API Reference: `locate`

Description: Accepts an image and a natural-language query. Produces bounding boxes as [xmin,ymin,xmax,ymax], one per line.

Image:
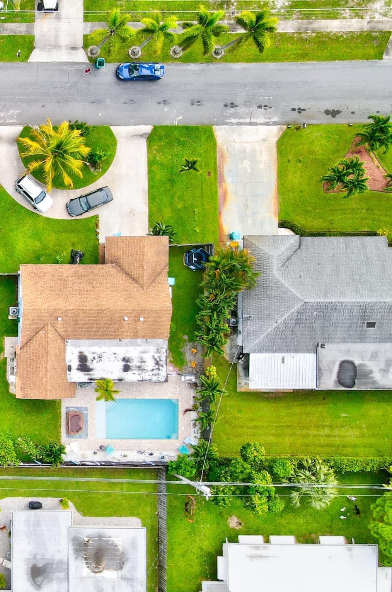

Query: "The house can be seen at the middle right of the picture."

[233,235,392,390]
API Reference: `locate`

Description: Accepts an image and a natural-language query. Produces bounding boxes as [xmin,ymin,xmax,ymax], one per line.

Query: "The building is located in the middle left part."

[15,235,176,400]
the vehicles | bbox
[11,176,54,214]
[65,185,117,218]
[37,0,62,14]
[116,58,165,82]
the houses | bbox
[198,535,392,592]
[233,235,392,390]
[0,510,146,592]
[15,235,176,400]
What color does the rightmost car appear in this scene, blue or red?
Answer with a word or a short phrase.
blue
